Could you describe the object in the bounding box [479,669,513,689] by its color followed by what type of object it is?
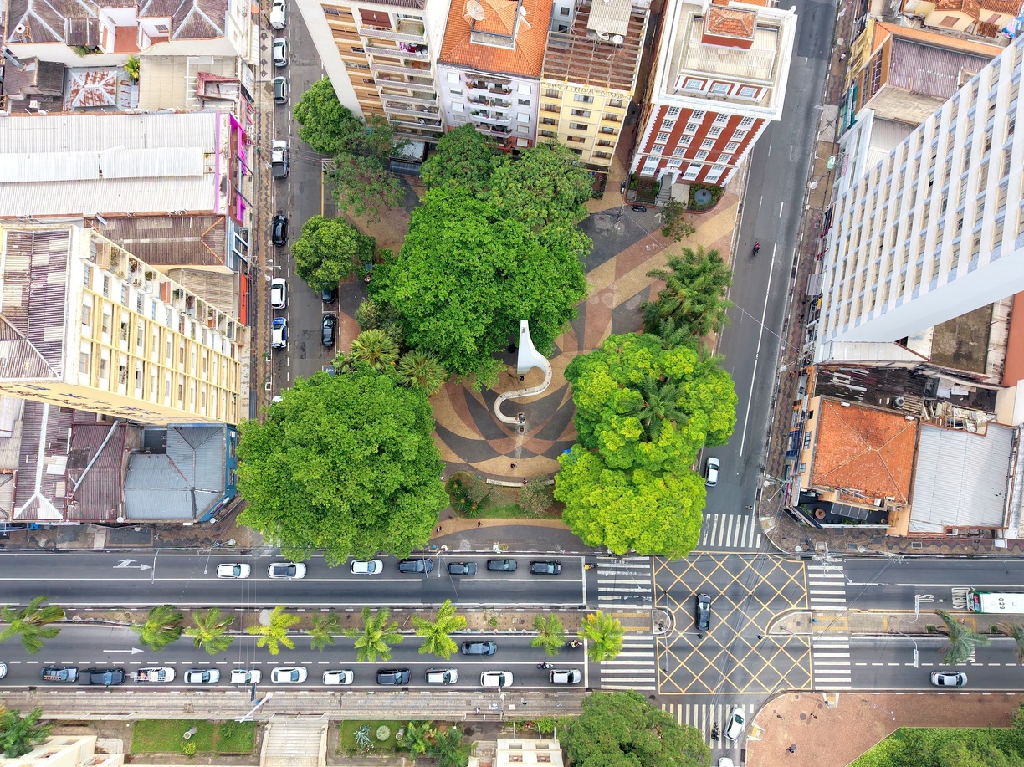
white car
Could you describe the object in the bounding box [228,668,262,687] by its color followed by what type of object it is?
white car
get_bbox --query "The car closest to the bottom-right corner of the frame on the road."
[928,670,968,690]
